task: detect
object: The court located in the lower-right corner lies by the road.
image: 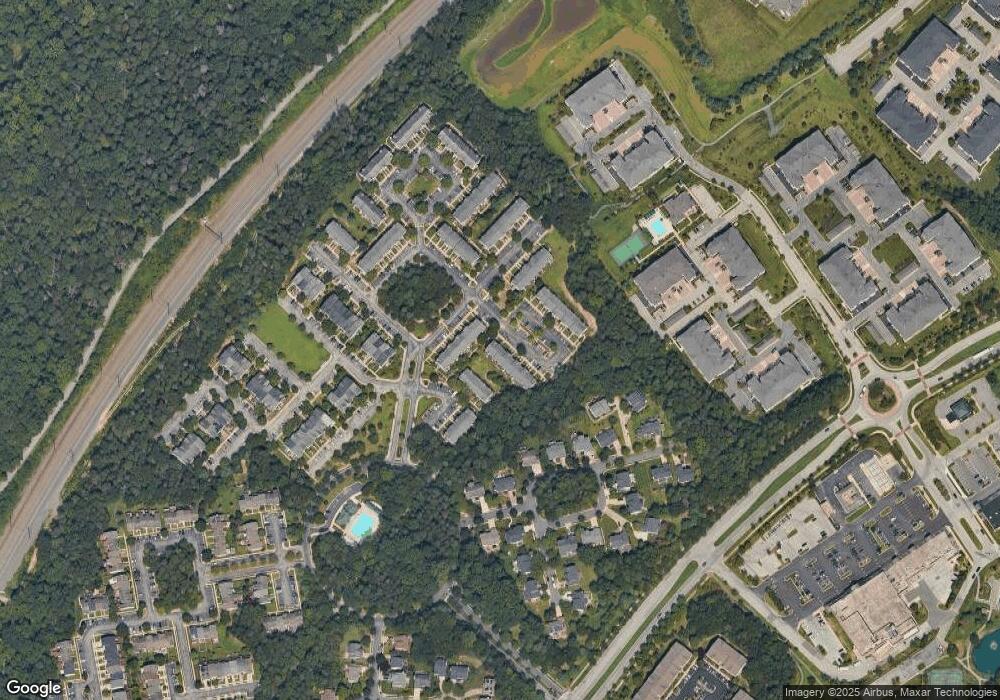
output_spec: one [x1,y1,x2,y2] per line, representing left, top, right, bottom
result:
[926,666,966,700]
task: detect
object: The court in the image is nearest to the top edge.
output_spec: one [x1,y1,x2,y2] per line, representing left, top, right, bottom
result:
[609,230,650,267]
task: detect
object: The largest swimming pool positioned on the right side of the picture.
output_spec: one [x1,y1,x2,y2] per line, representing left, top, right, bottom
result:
[639,207,674,245]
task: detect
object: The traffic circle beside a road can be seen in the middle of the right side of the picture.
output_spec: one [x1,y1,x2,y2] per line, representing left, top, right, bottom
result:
[839,353,930,439]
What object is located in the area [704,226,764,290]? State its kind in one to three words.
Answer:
building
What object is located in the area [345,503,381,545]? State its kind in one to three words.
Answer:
swimming pool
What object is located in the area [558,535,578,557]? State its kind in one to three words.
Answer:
house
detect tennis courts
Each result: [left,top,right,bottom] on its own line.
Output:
[926,666,966,700]
[609,230,650,267]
